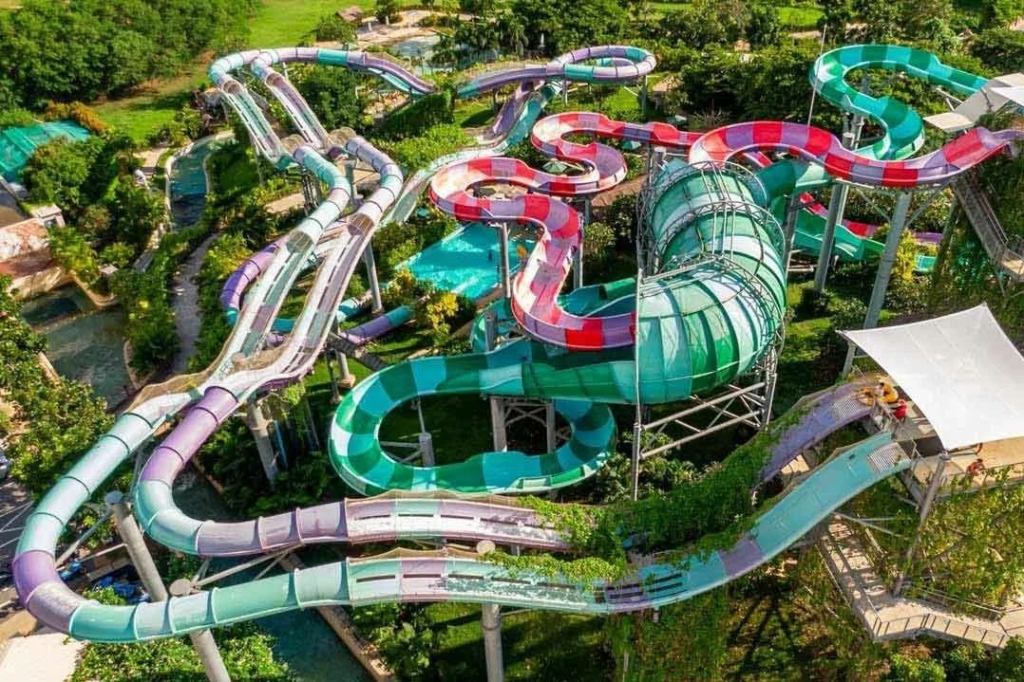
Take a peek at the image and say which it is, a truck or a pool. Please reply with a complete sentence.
This aerial view contains a pool.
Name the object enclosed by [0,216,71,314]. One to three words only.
house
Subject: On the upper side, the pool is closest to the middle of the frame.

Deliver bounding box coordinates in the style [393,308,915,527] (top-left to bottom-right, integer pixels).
[391,225,536,302]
